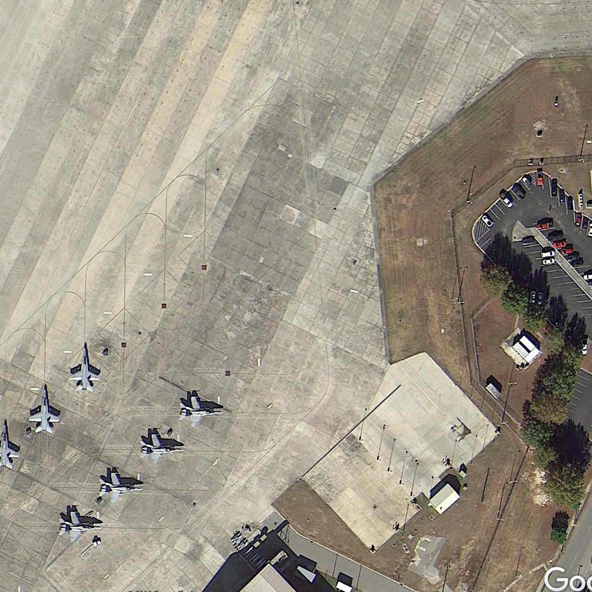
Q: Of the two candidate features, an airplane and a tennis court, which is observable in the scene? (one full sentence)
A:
I can see an airplane in this picture.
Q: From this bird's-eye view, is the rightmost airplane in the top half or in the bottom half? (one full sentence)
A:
Seen from above, the rightmost airplane lies in the bottom half of the view.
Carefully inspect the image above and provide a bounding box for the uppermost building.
[512,336,543,364]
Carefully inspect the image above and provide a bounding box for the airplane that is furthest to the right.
[179,398,223,428]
